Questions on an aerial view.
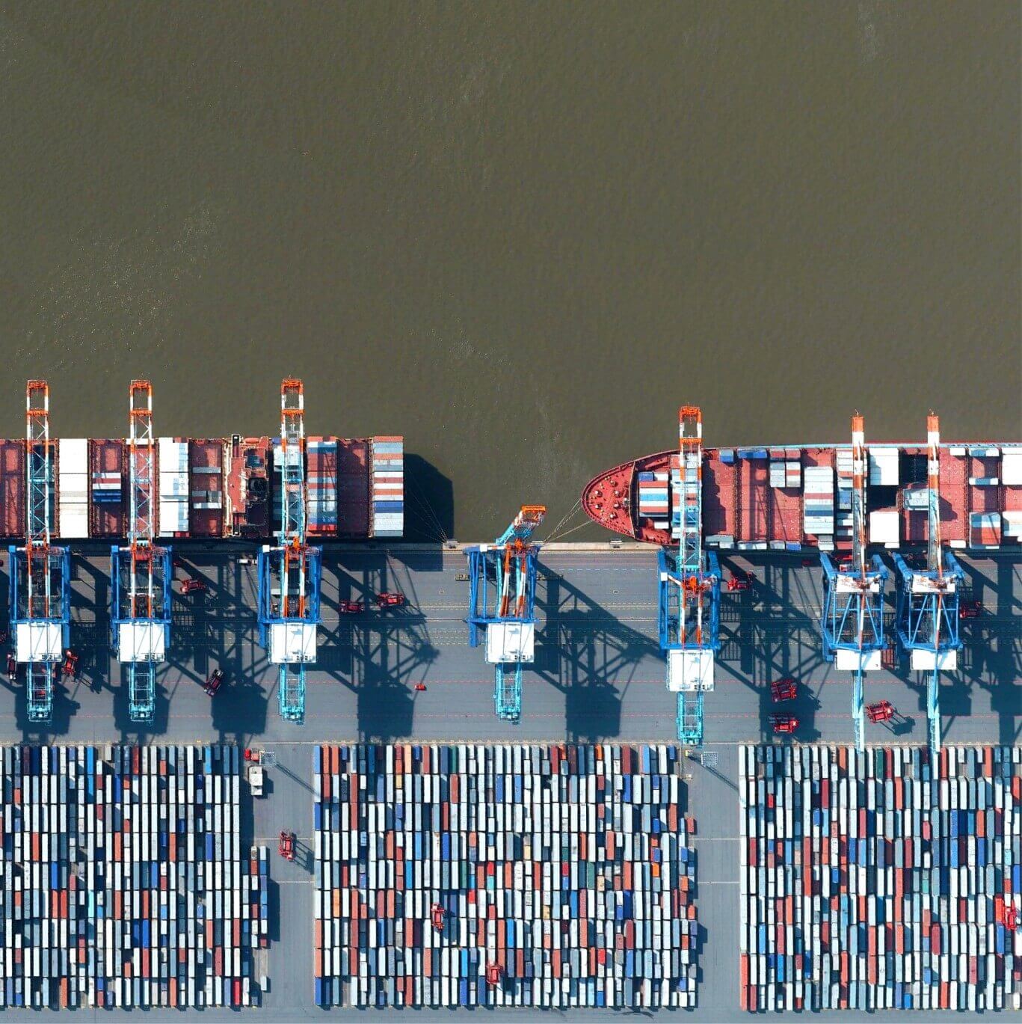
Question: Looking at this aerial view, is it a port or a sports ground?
port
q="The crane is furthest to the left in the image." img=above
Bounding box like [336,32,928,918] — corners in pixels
[5,378,88,724]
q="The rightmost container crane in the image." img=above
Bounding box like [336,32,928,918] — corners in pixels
[882,414,965,754]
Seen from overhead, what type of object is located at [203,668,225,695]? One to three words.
work vehicle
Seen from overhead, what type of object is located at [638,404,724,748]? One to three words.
container crane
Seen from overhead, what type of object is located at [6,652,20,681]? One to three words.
work vehicle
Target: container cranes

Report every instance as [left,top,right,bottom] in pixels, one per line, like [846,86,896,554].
[249,378,333,724]
[5,378,88,724]
[882,414,965,754]
[638,404,724,748]
[105,378,189,724]
[455,507,542,724]
[799,415,889,754]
